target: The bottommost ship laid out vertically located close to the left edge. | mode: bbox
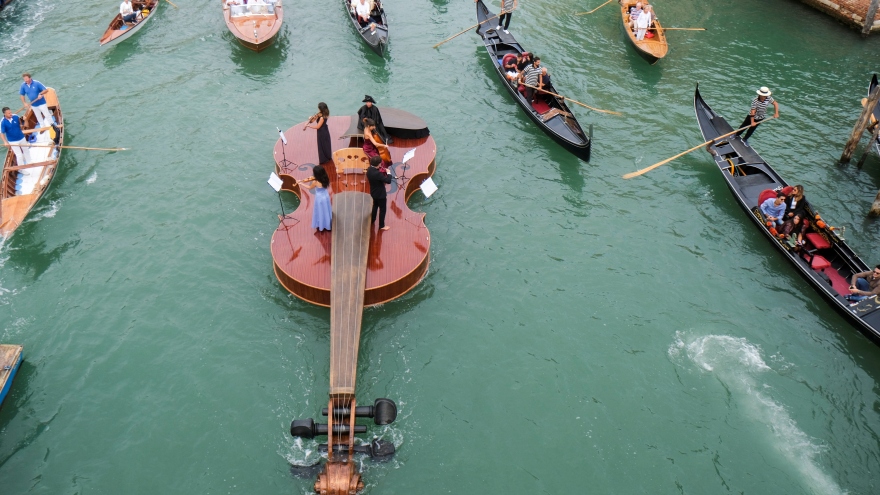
[0,345,29,412]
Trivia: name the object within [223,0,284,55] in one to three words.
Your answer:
boat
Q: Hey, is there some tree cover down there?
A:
No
